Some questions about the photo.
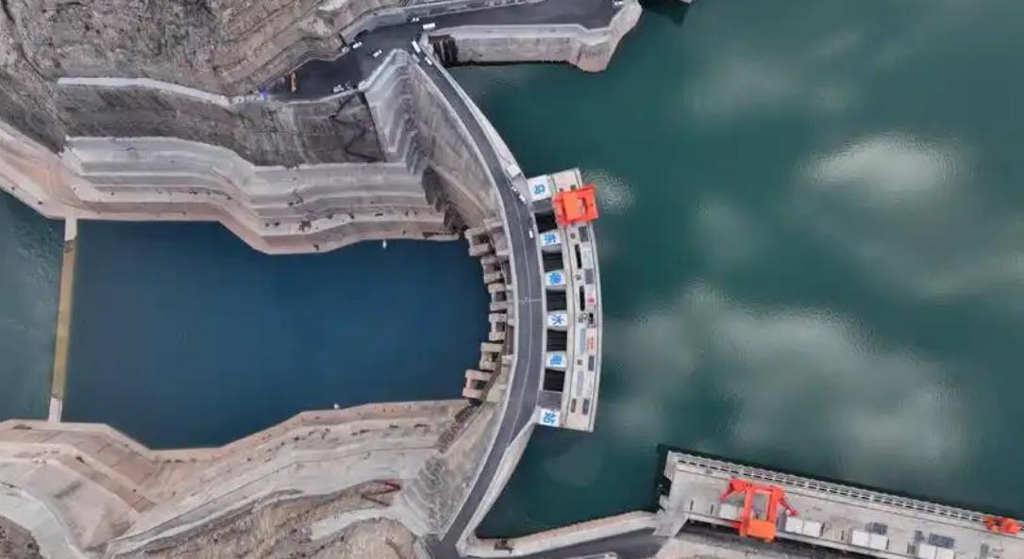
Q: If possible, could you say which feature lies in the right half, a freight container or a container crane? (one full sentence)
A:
There is a container crane in the right half.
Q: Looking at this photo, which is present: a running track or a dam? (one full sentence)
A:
Visible in the photo is a dam.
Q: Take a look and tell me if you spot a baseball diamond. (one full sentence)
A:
No, I can't see a single baseball diamond in this photo.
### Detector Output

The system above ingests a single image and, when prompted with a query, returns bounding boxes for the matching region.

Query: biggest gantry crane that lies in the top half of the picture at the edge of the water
[552,181,602,224]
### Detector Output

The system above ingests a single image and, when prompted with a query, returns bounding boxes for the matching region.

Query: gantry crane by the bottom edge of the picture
[724,481,791,549]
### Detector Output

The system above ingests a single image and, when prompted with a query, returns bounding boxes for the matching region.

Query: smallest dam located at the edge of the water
[48,217,76,424]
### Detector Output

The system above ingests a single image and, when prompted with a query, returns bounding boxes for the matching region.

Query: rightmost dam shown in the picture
[406,54,603,545]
